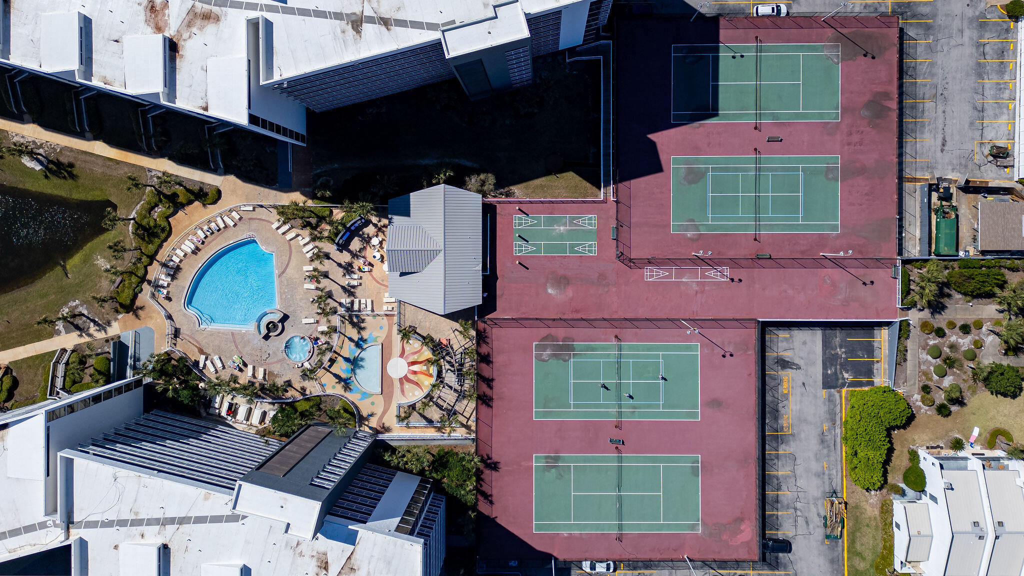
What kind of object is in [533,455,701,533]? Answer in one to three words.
tennis court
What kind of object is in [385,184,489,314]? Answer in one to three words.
building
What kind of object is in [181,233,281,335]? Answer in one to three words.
swimming pool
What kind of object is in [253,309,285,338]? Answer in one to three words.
fountain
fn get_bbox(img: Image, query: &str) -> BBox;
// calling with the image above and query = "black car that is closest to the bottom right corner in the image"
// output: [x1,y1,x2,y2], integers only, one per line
[758,538,792,555]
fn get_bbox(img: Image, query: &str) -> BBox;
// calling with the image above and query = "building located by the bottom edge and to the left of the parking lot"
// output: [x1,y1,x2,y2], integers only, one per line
[0,376,445,576]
